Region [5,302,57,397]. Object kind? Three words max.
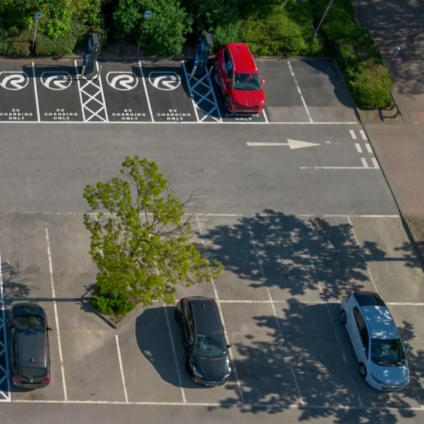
car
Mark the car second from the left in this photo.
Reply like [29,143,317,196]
[179,297,241,389]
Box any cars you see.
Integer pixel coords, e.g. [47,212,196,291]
[5,302,57,397]
[345,297,422,392]
[179,297,241,389]
[218,42,270,108]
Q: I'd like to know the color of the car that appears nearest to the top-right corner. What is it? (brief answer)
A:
red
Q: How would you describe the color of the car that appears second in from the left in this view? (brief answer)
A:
black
